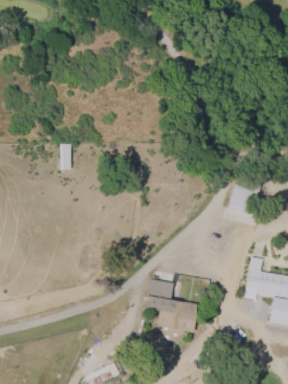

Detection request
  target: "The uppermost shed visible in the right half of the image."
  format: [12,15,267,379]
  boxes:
[230,184,260,214]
